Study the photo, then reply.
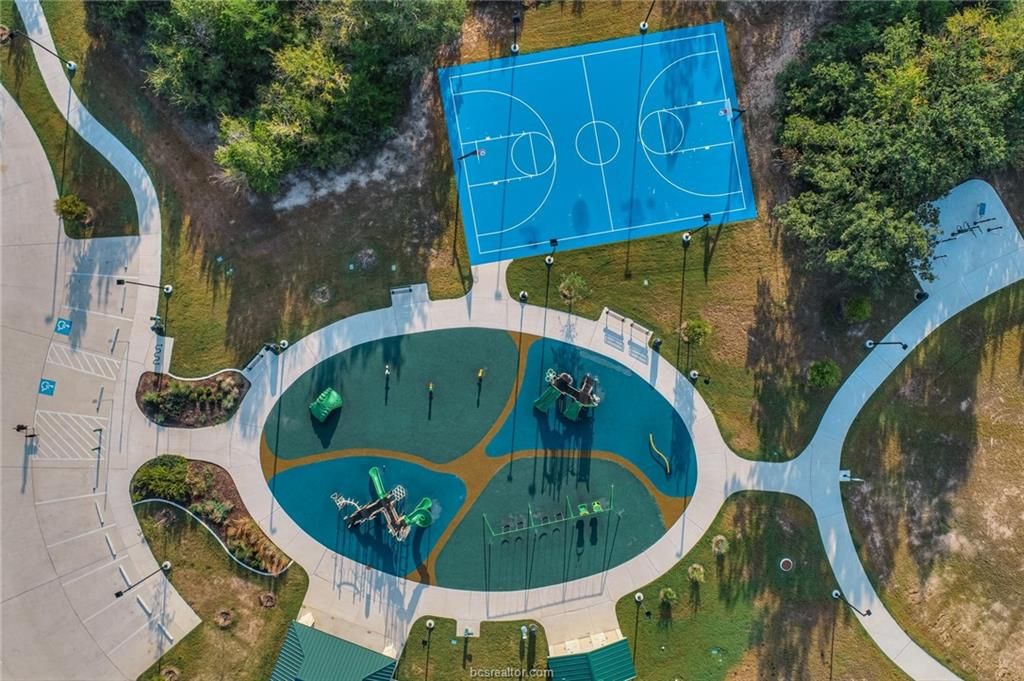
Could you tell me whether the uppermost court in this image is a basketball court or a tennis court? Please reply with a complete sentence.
In the photo, the uppermost court shows up as a basketball court.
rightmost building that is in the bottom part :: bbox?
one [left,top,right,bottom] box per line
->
[546,628,635,681]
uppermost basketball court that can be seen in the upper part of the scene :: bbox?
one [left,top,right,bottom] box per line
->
[439,22,756,263]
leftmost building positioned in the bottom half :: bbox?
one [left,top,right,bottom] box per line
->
[269,612,397,681]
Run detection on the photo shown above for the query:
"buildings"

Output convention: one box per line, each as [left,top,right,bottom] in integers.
[269,612,397,681]
[546,628,635,681]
